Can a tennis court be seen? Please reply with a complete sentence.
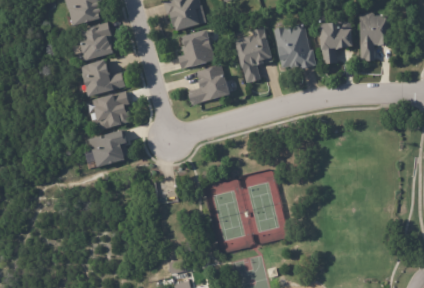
Yes, you can see a tennis court in this photo.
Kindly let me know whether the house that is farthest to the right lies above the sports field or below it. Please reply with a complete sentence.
Looking at the scene, the house that is farthest to the right is located above the sports field.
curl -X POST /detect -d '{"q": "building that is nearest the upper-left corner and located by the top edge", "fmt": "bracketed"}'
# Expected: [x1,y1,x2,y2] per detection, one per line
[66,0,100,24]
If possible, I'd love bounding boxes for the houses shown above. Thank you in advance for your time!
[170,0,206,30]
[93,92,130,130]
[90,130,126,166]
[66,0,100,24]
[238,28,272,83]
[321,22,352,64]
[179,32,212,68]
[82,23,112,60]
[274,23,314,70]
[190,64,229,103]
[360,12,386,60]
[82,59,126,96]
